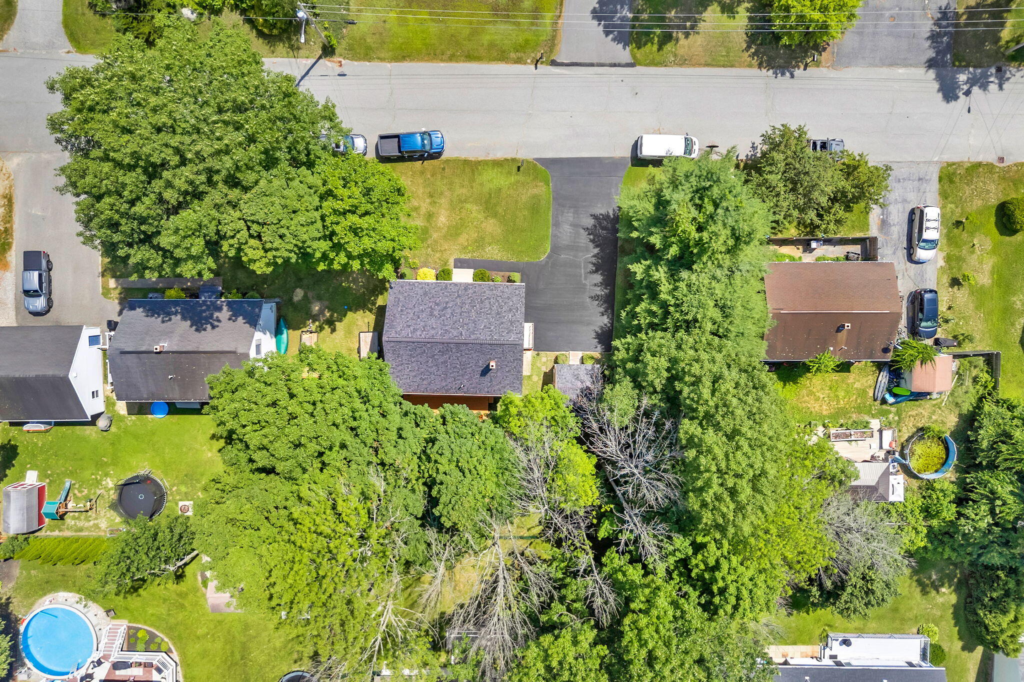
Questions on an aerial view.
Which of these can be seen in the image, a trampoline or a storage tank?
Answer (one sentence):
The one in the frame is a trampoline.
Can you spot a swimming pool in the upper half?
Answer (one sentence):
No, there's no swimming pool to be seen in the upper half.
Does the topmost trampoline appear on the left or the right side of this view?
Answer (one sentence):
The topmost trampoline sits on the left side.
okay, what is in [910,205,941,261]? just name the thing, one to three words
car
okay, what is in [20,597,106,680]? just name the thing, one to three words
swimming pool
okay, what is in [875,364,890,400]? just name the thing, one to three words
boat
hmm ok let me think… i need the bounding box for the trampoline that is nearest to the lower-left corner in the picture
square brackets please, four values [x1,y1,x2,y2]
[102,468,166,523]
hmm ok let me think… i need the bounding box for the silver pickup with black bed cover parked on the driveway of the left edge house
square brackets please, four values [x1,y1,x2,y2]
[16,250,51,313]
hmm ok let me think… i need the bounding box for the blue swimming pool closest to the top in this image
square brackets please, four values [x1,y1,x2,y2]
[149,402,168,419]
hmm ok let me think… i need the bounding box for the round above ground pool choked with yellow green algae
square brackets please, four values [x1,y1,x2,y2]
[900,430,957,480]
